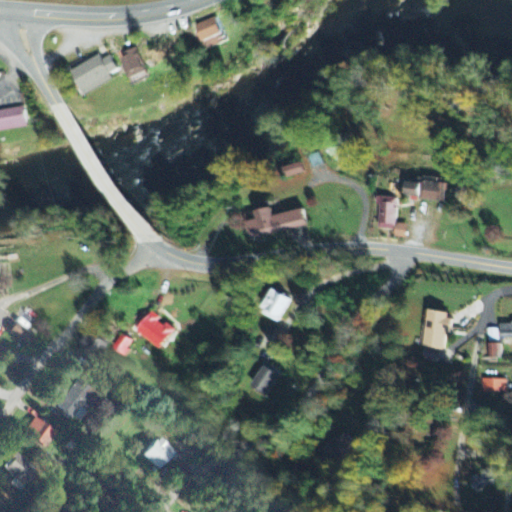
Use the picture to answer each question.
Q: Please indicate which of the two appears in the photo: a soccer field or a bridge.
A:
bridge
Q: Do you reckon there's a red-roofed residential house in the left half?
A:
Yes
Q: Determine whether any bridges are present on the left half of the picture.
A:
Yes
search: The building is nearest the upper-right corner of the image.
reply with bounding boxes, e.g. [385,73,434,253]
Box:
[402,180,446,202]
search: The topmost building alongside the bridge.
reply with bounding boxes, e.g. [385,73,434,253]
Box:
[70,48,122,96]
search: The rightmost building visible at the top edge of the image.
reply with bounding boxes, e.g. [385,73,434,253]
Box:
[196,16,228,47]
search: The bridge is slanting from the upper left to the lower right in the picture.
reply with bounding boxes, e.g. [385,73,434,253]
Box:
[52,100,156,248]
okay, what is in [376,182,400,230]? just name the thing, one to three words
house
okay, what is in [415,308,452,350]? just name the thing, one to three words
house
